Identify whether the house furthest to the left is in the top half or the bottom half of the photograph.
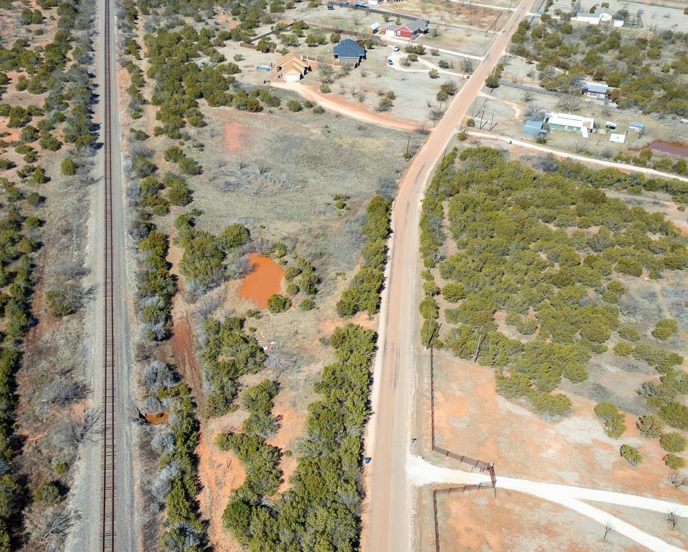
top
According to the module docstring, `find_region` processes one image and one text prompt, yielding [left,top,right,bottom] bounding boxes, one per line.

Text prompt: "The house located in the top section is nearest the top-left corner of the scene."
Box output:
[274,54,310,81]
